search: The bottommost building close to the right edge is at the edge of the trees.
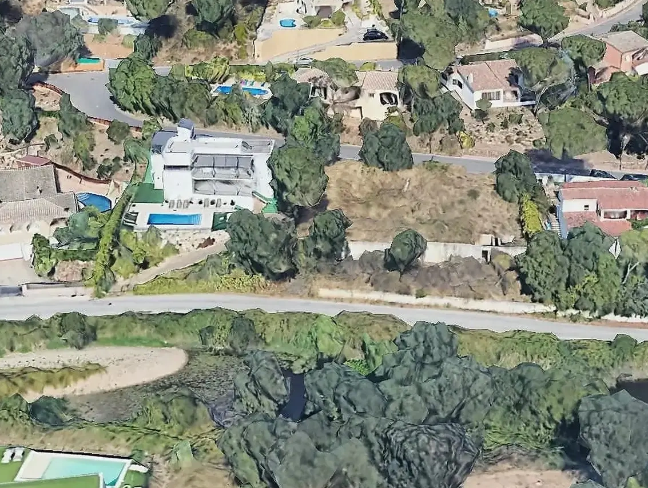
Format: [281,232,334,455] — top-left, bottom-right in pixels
[543,176,648,240]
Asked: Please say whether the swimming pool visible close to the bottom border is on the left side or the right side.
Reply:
left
